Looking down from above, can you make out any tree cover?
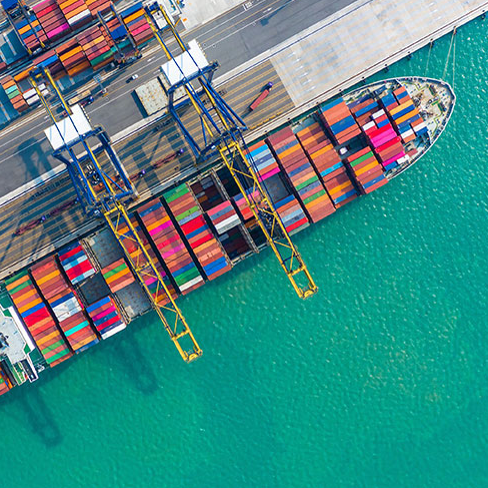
No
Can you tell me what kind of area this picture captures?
port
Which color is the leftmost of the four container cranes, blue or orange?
blue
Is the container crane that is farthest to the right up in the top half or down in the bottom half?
top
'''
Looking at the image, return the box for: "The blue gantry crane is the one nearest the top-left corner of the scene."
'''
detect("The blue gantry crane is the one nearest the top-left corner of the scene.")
[0,0,52,63]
